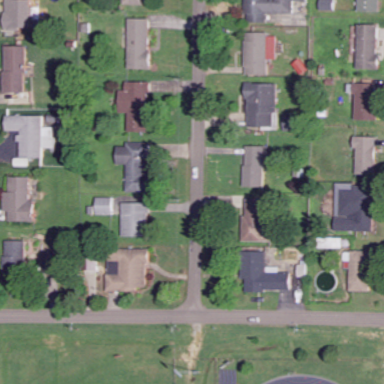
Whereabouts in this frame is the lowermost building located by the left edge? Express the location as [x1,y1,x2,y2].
[2,240,25,272]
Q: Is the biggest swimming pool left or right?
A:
right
